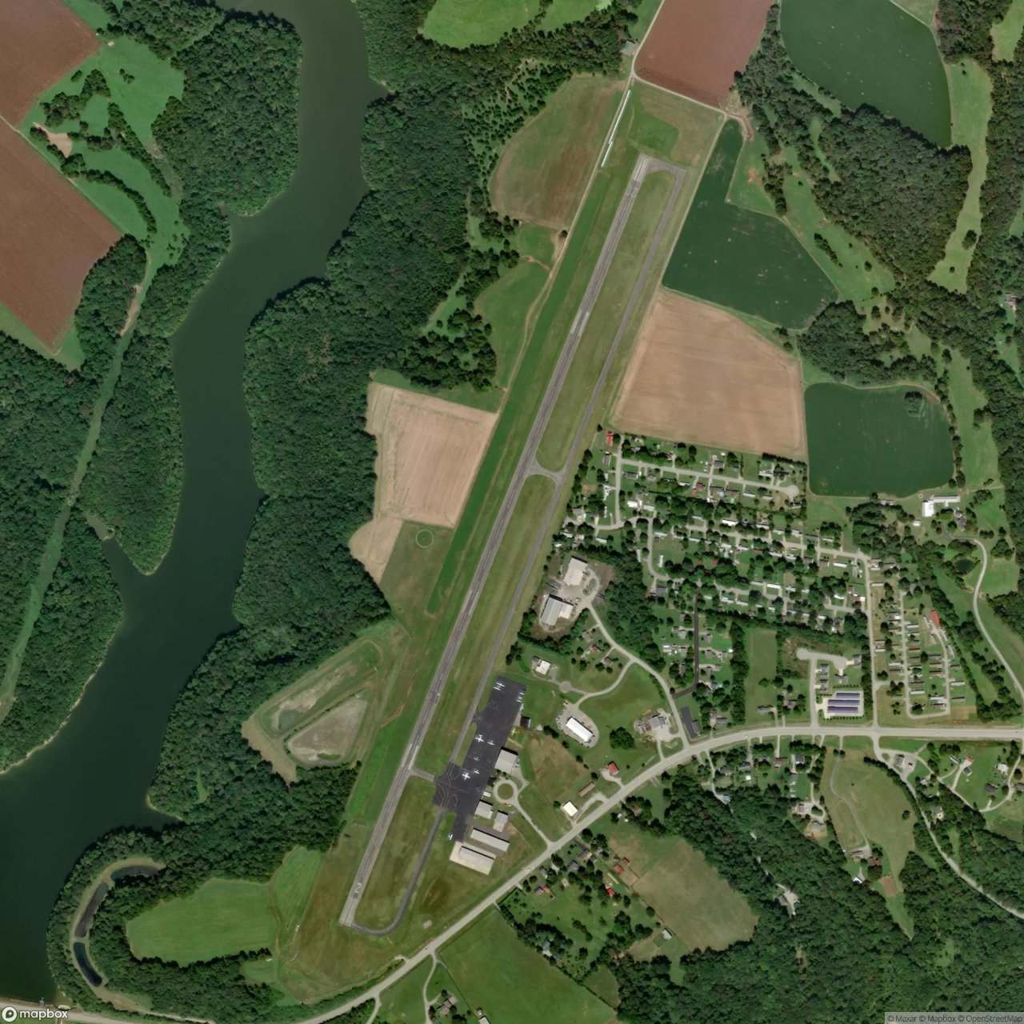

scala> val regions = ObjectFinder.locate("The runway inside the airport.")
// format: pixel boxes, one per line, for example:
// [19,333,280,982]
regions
[339,153,653,926]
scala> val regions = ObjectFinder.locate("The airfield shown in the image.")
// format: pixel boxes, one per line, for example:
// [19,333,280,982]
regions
[339,153,685,935]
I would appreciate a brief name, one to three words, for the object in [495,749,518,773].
hangar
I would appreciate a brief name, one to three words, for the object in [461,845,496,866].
hangar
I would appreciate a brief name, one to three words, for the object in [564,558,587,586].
building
